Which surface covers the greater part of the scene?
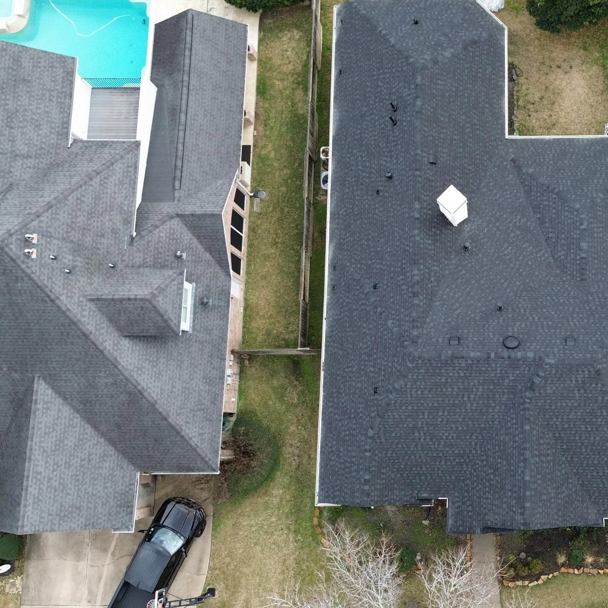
buildings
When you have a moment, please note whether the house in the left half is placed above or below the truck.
above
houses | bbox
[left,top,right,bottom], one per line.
[0,9,259,535]
[314,0,608,534]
